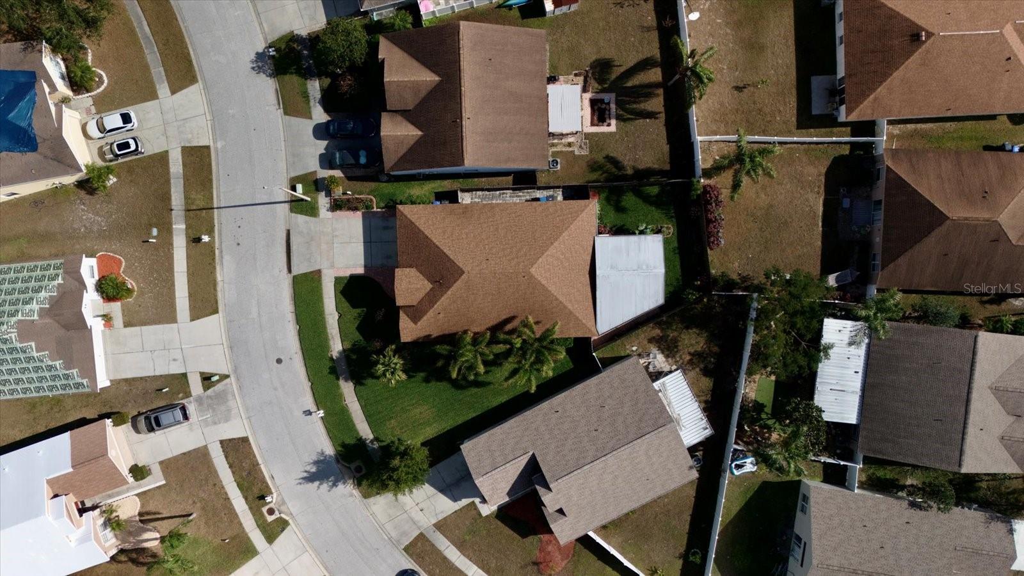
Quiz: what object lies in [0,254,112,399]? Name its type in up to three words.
house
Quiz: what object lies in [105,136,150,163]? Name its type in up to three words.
car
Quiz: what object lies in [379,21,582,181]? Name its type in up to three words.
house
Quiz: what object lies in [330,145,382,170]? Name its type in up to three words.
car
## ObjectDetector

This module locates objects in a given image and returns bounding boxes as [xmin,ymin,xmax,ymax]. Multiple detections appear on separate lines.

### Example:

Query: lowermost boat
[729,456,756,474]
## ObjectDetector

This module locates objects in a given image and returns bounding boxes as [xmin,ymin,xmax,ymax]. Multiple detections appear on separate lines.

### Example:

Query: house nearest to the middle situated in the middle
[394,199,665,342]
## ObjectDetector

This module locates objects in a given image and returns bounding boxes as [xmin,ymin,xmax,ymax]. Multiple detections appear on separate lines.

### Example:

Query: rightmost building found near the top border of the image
[833,0,1024,123]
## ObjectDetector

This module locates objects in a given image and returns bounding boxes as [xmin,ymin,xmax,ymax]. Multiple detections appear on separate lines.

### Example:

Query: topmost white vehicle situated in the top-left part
[88,111,142,141]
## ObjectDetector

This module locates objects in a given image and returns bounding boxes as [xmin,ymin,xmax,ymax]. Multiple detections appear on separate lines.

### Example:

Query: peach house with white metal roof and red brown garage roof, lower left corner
[0,418,137,576]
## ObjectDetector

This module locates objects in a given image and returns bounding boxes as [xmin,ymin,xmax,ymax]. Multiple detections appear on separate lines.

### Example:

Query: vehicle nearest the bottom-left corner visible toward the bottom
[136,400,194,435]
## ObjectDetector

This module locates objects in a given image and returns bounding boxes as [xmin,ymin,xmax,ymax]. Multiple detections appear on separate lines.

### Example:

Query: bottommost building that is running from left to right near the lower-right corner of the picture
[790,481,1024,576]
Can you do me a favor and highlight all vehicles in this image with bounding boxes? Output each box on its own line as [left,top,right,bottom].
[136,400,194,435]
[105,136,150,163]
[326,115,380,140]
[88,111,142,141]
[330,145,382,170]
